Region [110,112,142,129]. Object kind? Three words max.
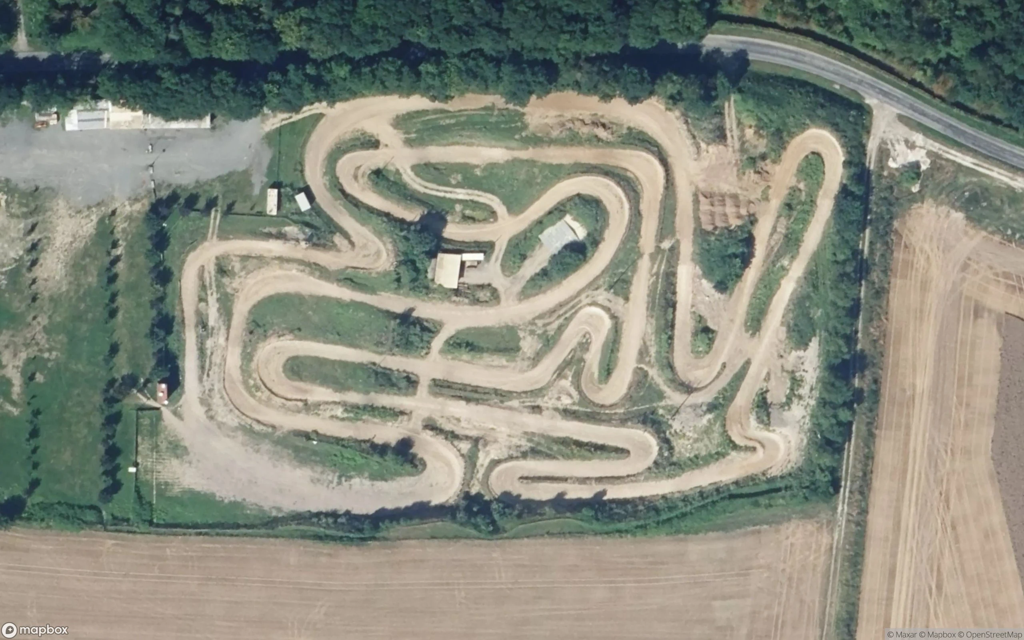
barn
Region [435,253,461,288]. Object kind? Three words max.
building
